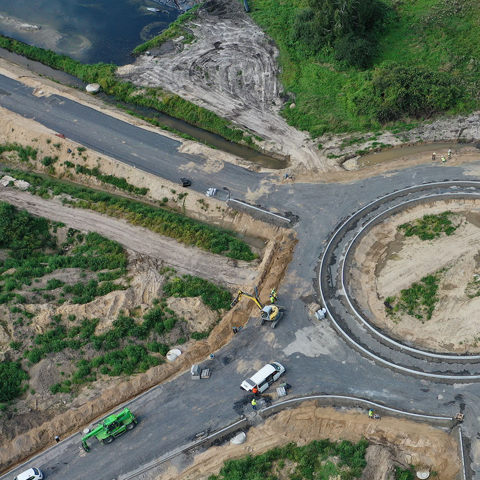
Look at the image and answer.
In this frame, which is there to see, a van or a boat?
van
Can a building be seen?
No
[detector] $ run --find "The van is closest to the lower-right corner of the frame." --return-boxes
[242,363,286,392]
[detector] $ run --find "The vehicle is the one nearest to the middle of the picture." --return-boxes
[238,288,283,329]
